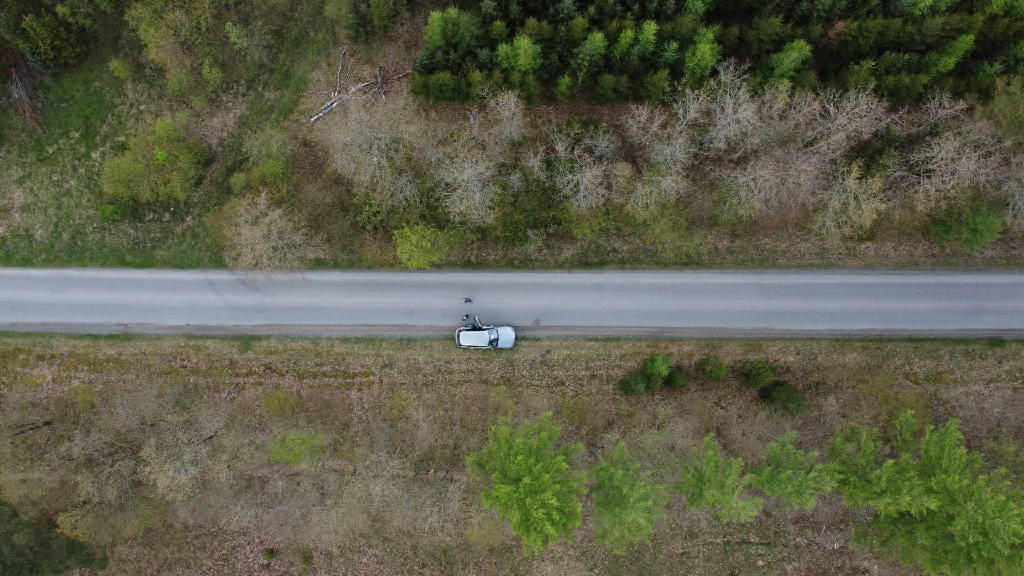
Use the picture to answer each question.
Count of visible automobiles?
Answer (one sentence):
There is 1 automobile in the image.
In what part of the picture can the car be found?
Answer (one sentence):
You can find the car in the center area of the picture.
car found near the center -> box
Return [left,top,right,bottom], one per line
[456,318,515,353]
